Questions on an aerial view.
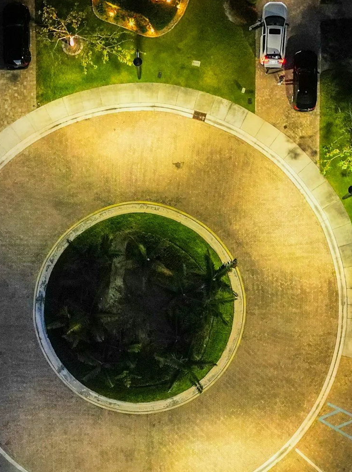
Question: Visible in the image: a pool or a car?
car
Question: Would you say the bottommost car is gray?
No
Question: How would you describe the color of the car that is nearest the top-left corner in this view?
black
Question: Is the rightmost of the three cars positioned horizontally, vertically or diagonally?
vertically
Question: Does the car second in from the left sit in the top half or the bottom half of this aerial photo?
top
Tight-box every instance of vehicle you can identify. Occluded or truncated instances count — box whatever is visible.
[0,3,34,71]
[290,50,322,114]
[247,2,290,70]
